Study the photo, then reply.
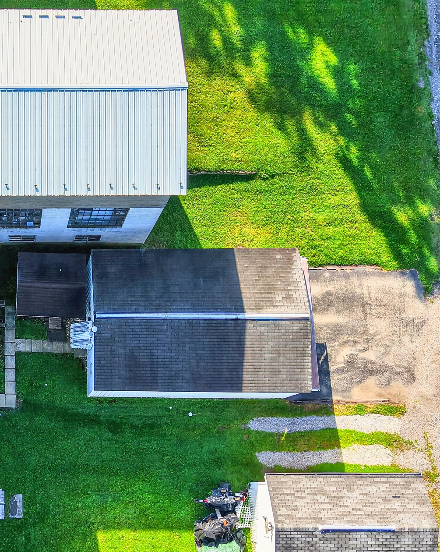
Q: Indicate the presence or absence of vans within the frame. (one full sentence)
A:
No, there's no van here.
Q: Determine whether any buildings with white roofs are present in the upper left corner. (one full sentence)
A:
Yes, looking in the upper left corner, one can make out a building with a white roof.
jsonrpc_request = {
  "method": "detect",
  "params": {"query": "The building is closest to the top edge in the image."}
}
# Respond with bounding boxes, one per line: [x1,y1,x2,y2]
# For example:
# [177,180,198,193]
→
[0,10,189,245]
